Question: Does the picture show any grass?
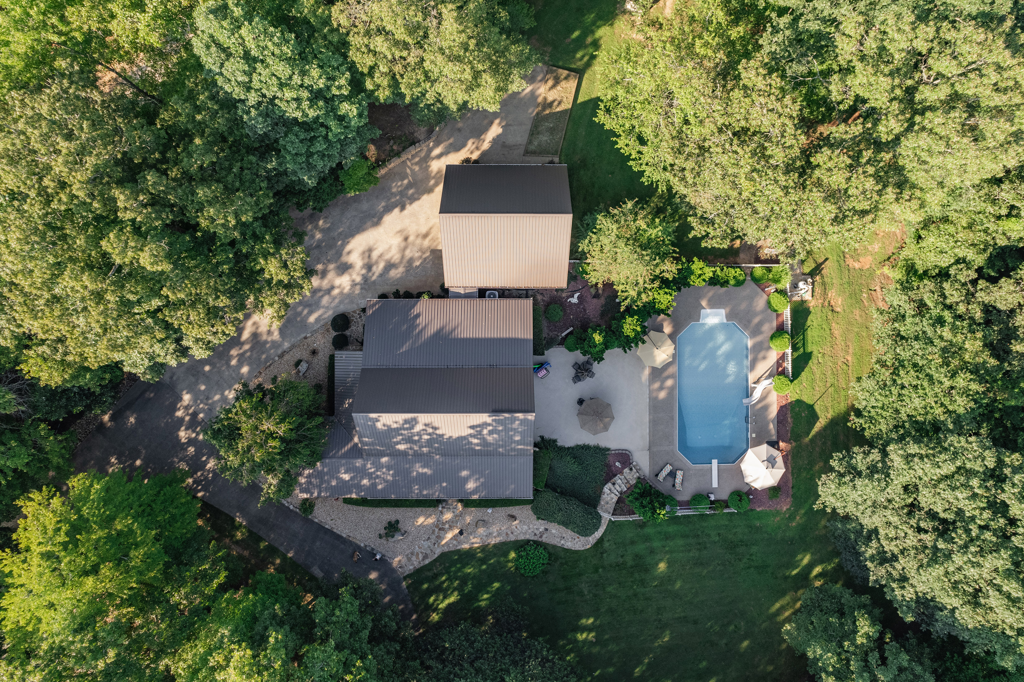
Yes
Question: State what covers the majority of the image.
trees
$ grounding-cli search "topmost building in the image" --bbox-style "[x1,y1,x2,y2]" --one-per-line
[439,163,573,289]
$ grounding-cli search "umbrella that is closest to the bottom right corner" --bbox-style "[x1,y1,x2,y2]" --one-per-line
[740,439,788,490]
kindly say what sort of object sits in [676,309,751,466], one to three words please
swimming pool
